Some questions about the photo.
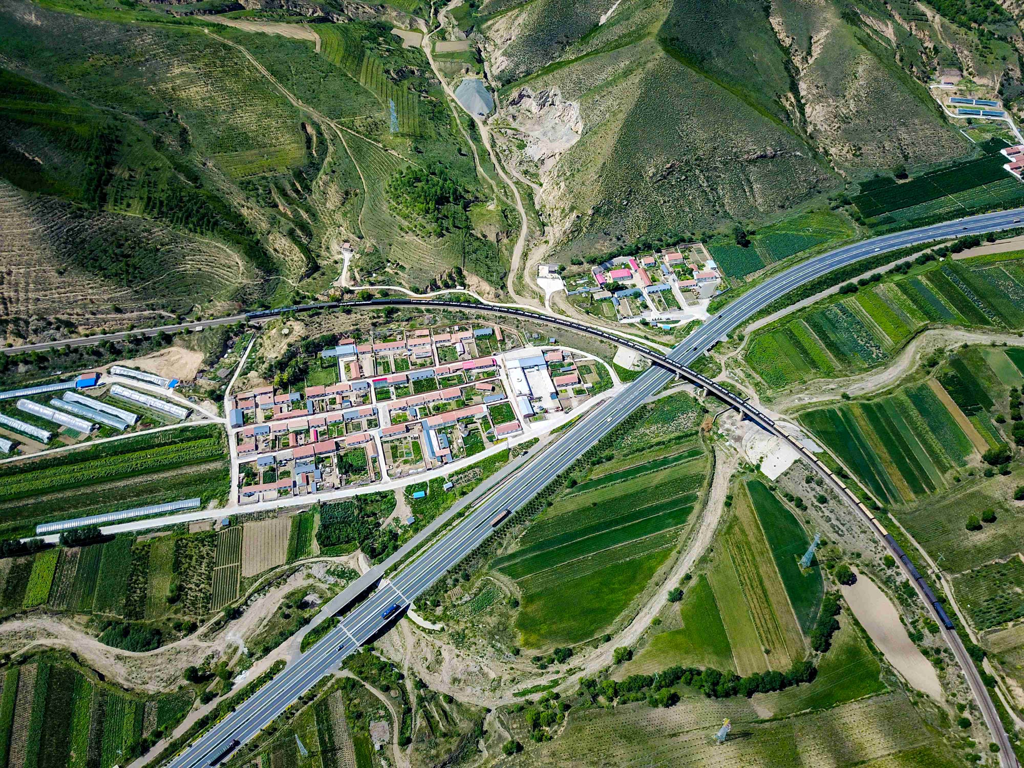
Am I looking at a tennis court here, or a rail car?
rail car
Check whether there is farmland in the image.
Yes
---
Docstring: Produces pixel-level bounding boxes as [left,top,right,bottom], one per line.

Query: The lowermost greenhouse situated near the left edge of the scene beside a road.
[35,499,200,536]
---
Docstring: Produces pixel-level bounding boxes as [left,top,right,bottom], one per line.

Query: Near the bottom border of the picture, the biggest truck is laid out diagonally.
[206,735,243,767]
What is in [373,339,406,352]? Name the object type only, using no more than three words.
house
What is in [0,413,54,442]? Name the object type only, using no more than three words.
greenhouse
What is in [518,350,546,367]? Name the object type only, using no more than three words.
building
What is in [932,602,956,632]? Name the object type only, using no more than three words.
rail car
